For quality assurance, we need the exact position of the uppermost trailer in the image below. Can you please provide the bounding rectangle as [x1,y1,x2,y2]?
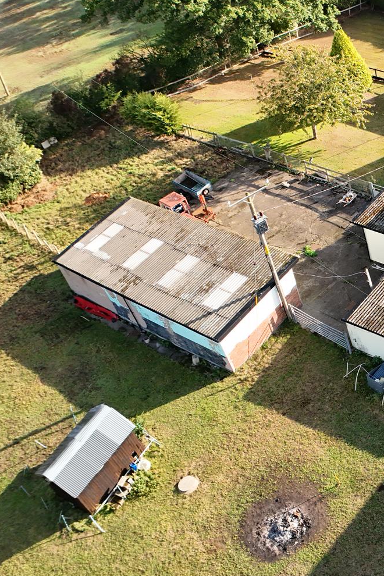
[170,172,217,204]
